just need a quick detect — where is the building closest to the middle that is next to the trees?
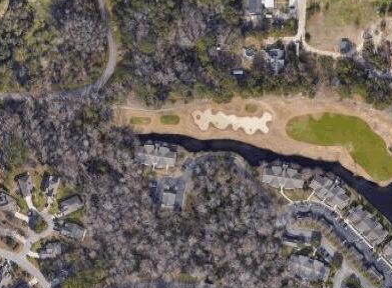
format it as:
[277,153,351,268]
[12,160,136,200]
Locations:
[137,143,180,169]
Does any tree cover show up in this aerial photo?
Yes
